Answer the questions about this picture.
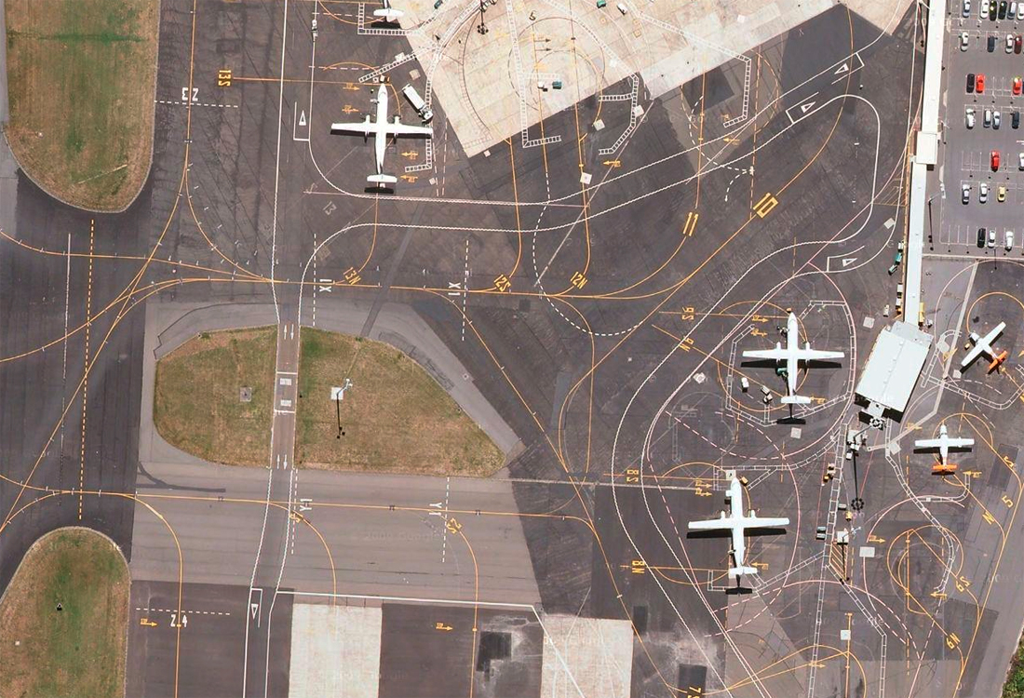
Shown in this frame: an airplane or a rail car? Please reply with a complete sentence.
The one in the frame is an airplane.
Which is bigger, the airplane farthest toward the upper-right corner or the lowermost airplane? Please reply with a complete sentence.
Compared with the airplane farthest toward the upper-right corner, the lowermost airplane is the bigger one.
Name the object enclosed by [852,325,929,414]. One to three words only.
building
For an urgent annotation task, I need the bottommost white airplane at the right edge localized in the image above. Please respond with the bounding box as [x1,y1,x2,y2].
[916,423,975,470]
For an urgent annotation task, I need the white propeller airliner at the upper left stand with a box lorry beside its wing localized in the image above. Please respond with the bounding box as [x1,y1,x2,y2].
[331,85,432,176]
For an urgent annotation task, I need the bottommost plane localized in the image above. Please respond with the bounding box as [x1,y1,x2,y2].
[686,478,791,575]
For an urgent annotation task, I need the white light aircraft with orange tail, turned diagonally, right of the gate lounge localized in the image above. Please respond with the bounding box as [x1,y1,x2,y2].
[964,325,1007,370]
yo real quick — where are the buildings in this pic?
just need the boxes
[852,325,929,414]
[919,0,946,133]
[902,163,927,328]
